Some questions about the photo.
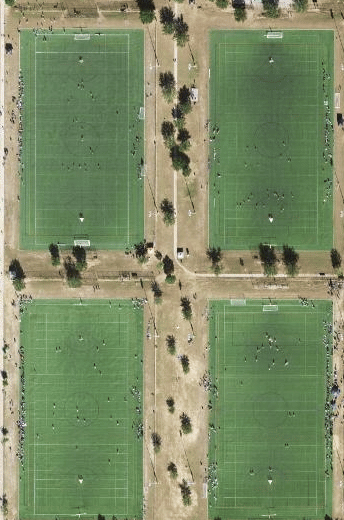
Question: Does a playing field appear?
Yes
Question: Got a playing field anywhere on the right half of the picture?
Yes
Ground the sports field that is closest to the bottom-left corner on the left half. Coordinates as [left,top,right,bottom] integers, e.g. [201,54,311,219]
[19,298,144,520]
